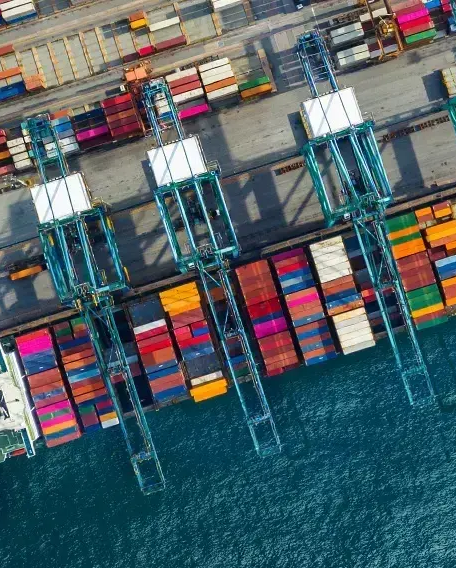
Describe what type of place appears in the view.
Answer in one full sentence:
What you see here is a port.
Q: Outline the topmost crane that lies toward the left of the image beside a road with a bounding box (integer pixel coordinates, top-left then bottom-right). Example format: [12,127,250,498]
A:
[122,59,174,143]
